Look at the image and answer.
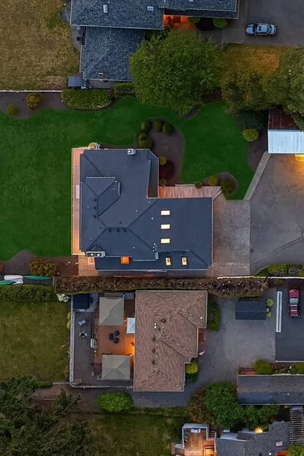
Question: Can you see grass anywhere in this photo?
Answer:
Yes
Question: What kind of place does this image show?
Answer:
residential area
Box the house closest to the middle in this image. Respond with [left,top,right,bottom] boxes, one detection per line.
[80,149,214,270]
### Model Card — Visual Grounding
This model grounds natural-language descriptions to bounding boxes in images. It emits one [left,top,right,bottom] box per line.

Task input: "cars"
[286,289,301,317]
[245,22,277,37]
